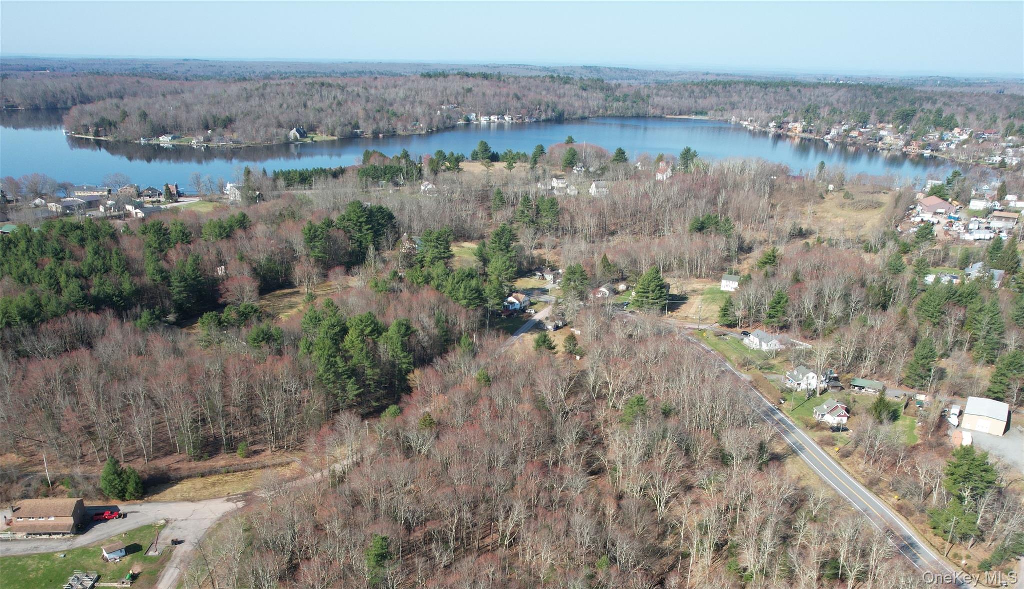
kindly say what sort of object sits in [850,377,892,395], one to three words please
shed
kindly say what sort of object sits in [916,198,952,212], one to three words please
building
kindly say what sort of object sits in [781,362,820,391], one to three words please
house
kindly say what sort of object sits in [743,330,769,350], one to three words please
house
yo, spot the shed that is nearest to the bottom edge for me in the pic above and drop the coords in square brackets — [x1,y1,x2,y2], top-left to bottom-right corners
[100,539,127,562]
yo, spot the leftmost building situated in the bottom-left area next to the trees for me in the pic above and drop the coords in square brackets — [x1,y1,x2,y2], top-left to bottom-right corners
[3,495,95,544]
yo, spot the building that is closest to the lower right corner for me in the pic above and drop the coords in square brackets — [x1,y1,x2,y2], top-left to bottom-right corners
[961,395,1011,438]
